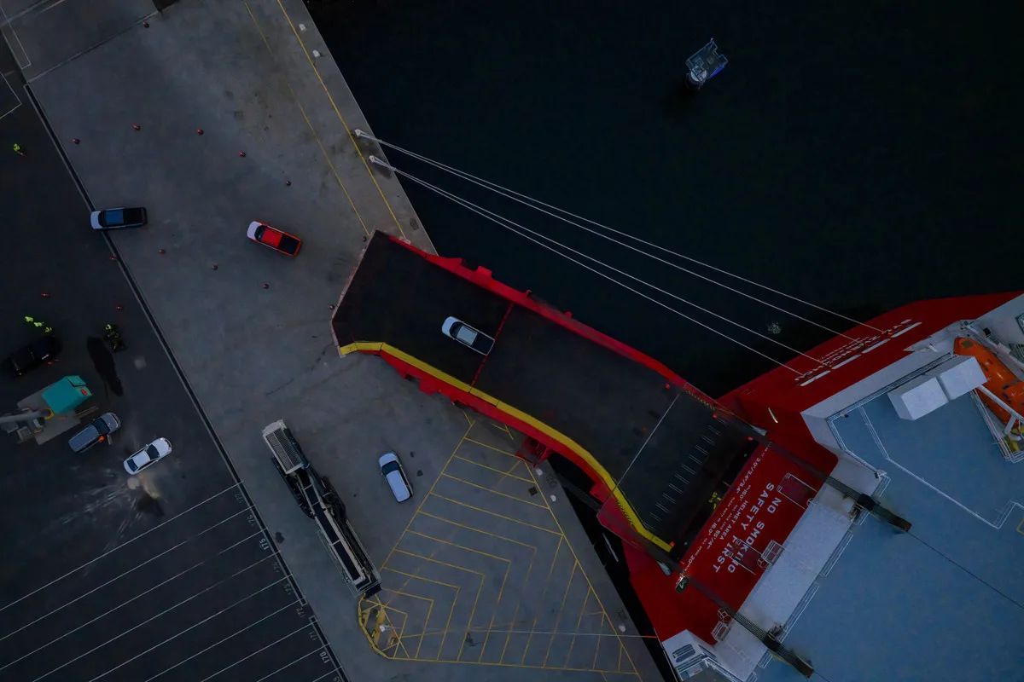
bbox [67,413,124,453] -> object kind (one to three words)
car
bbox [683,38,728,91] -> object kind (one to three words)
boat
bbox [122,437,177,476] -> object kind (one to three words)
car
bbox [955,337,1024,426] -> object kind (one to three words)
boat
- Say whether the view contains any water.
Yes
